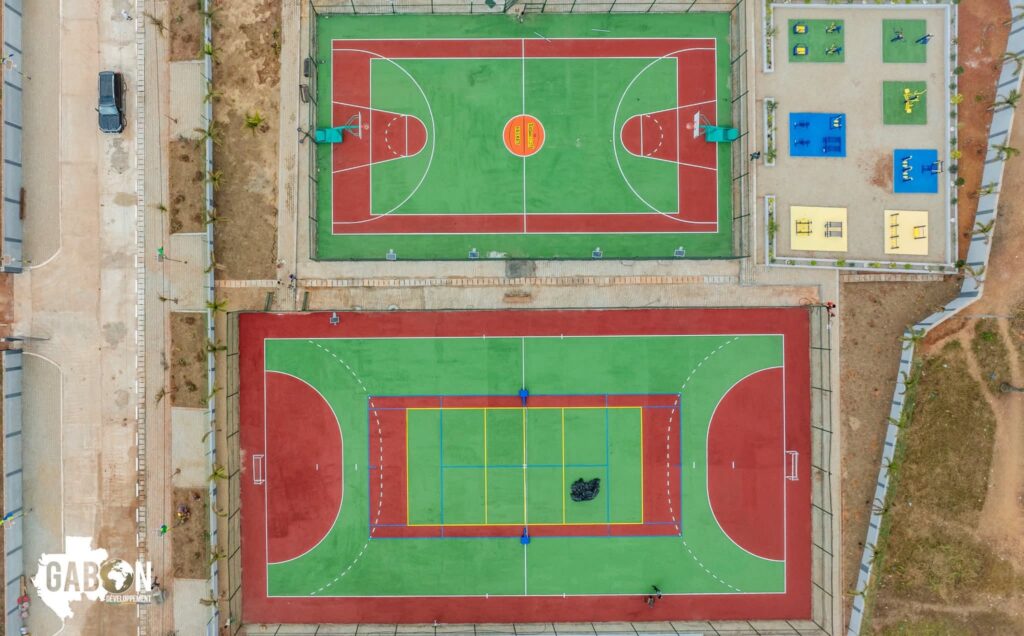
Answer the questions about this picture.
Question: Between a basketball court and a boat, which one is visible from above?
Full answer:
Looking from above, you can make out a basketball court.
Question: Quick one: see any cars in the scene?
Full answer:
Yes, looking at the shot, I can spot a car.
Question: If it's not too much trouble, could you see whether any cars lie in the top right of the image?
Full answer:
No, there's no car to be seen in the top right of the image.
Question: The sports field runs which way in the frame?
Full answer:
I'd say the sports field is aligned horizontally in the picture.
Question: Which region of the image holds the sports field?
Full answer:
Look in the bottom portion of the view to spot the sports field.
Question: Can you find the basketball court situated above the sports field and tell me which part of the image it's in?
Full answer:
The basketball court situated above the sports field is located in the top region of the scene.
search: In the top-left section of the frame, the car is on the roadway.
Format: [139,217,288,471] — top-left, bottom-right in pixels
[93,72,127,133]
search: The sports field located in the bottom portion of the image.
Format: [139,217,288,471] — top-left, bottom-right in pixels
[265,336,785,596]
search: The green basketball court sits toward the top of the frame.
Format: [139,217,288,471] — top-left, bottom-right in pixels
[317,12,733,260]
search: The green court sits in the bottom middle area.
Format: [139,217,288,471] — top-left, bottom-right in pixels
[239,309,812,624]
